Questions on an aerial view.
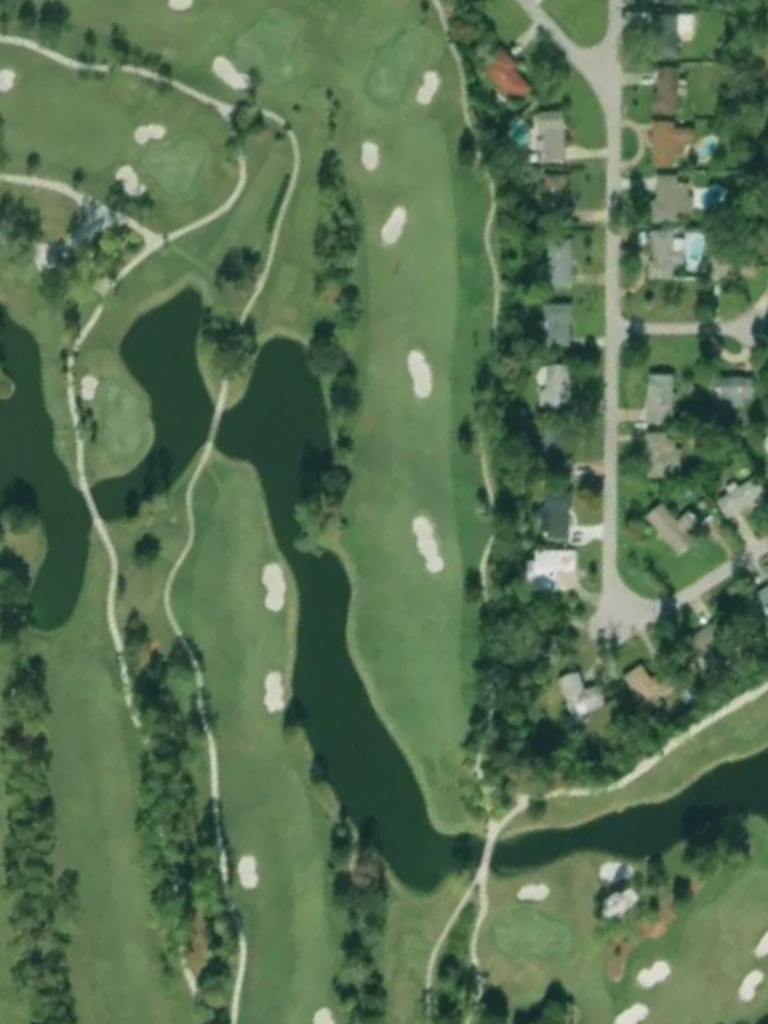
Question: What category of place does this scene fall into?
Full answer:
This looks like a golf course.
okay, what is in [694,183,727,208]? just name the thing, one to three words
swimming pool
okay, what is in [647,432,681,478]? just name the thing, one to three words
house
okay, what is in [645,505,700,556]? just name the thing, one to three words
house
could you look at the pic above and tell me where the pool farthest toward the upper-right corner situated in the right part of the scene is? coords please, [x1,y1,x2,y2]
[696,135,718,164]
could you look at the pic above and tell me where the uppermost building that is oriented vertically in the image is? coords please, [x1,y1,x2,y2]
[661,13,680,62]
